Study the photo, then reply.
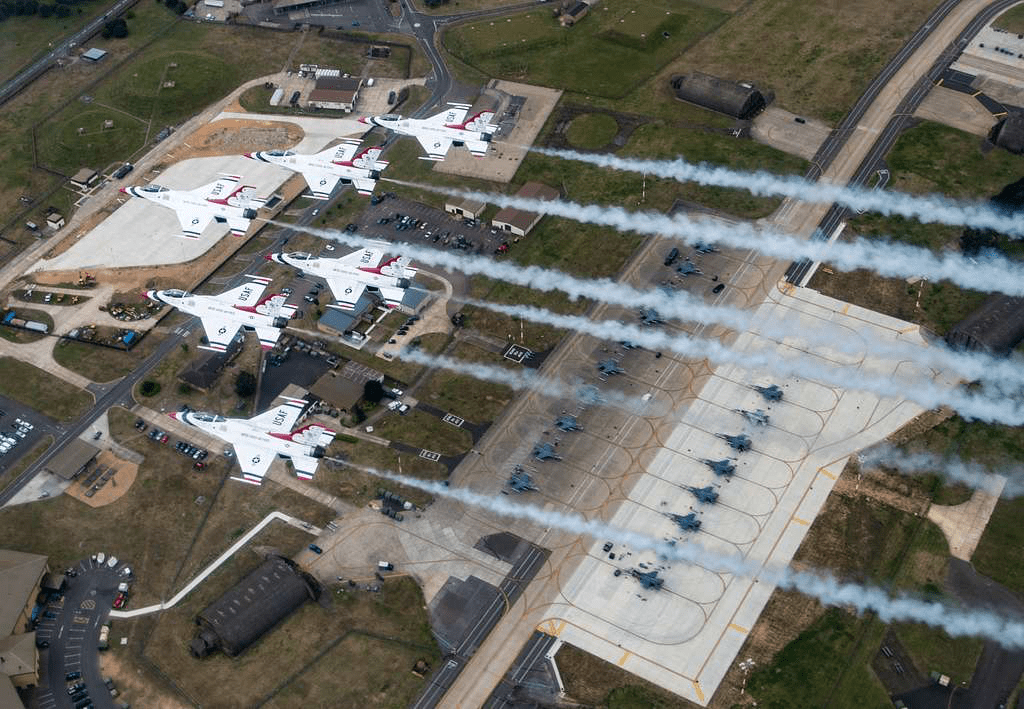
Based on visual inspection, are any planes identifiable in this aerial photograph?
Yes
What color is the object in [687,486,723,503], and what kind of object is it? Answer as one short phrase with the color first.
blue airplane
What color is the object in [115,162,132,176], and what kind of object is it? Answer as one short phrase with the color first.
black vehicle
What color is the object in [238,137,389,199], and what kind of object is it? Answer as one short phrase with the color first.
white airplane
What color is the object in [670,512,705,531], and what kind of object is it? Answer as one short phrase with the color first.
blue airplane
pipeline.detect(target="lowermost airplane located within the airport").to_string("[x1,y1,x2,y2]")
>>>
[632,569,668,589]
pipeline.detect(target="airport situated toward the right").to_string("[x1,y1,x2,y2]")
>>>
[291,0,1024,709]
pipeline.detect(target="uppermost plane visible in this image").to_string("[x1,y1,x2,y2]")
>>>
[354,103,498,160]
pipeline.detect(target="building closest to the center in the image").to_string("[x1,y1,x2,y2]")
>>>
[399,283,433,312]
